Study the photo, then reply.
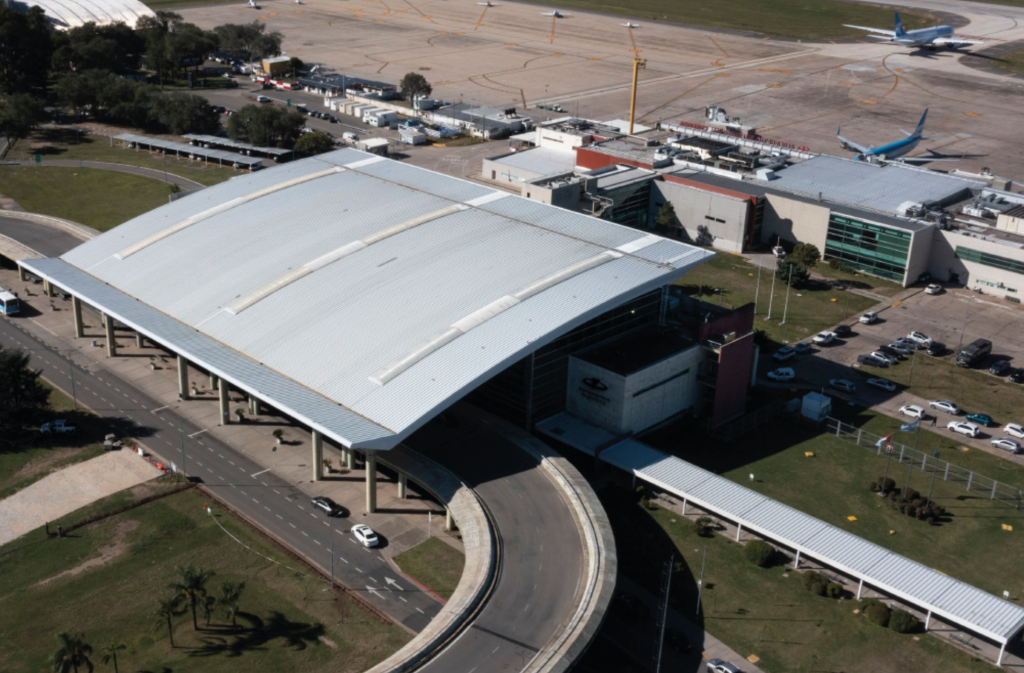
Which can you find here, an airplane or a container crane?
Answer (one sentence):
The image shows an airplane.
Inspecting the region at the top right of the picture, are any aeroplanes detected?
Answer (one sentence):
Yes, an aeroplane is visible at the top right of the picture.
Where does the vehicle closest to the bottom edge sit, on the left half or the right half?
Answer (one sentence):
The vehicle closest to the bottom edge appears in the right half of the scene.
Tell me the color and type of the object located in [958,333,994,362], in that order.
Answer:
black vehicle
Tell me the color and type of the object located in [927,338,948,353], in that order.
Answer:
black car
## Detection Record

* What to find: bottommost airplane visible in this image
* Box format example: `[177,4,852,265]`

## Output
[836,106,964,164]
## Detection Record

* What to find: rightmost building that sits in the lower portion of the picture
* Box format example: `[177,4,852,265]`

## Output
[805,387,834,422]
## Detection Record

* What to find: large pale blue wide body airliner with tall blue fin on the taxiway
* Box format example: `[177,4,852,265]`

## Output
[851,14,988,52]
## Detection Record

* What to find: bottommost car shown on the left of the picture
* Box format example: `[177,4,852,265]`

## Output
[350,521,383,545]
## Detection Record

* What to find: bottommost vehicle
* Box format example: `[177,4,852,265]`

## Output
[697,647,753,673]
